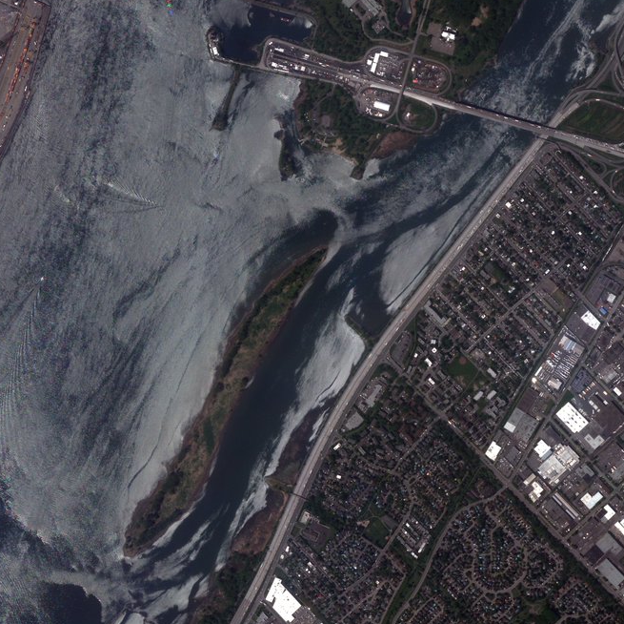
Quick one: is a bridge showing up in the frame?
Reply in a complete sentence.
Yes, the image includes a bridge.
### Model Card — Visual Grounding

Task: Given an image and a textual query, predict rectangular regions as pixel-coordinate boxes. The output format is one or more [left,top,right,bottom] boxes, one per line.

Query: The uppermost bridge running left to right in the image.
[423,100,616,153]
